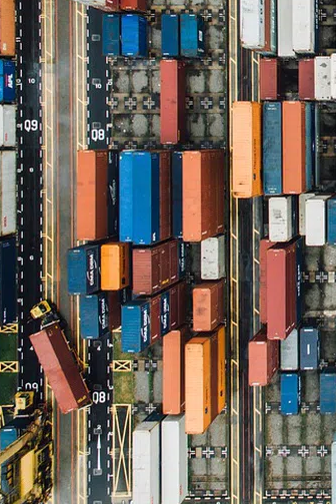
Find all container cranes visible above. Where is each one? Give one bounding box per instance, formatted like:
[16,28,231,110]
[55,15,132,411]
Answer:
[0,409,56,504]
